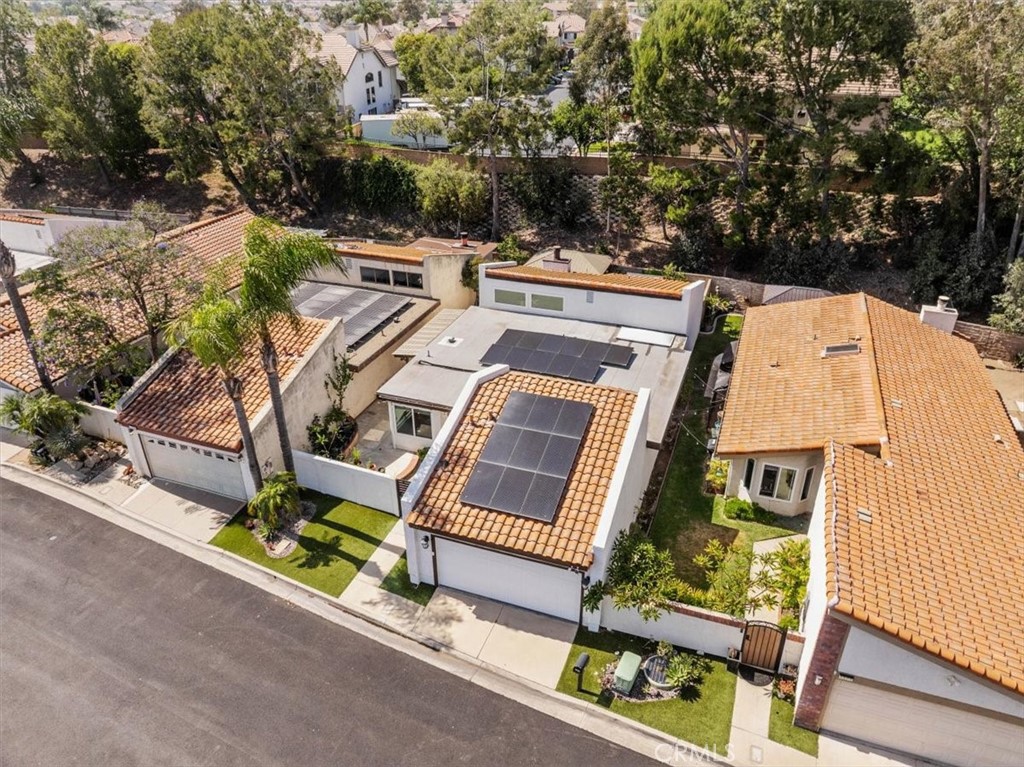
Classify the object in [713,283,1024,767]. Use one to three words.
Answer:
house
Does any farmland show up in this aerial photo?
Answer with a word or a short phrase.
No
